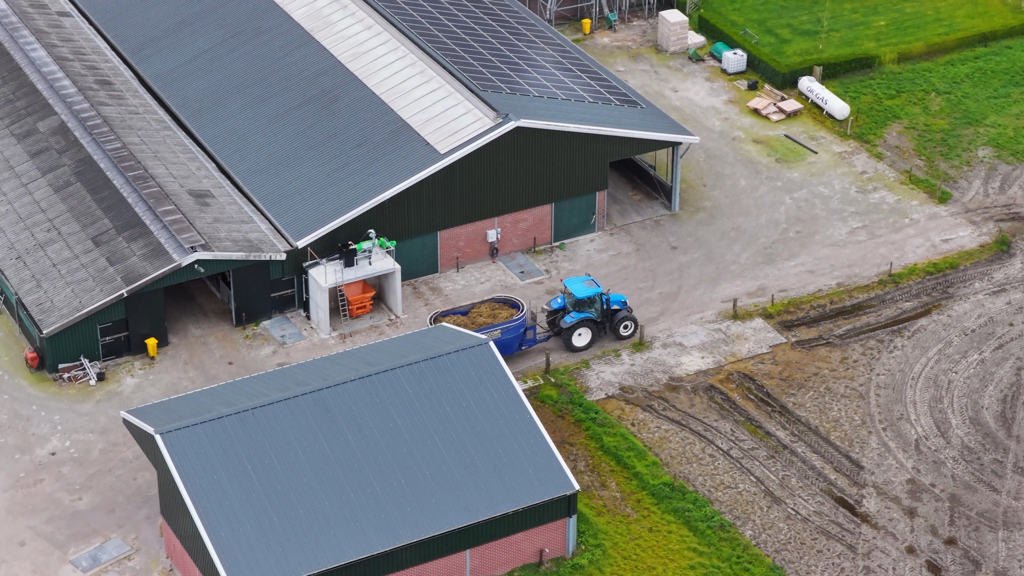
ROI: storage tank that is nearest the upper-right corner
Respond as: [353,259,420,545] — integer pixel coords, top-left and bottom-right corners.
[802,76,853,119]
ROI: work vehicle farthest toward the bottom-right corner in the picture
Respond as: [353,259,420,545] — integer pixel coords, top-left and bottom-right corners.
[539,276,638,350]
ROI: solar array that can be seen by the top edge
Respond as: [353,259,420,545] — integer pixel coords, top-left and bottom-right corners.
[377,0,646,108]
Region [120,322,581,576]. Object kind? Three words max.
shed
